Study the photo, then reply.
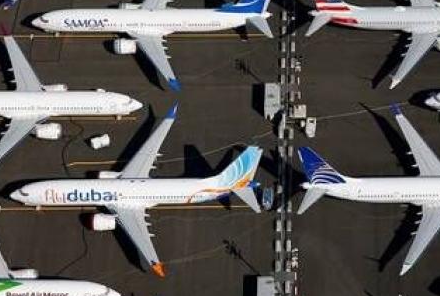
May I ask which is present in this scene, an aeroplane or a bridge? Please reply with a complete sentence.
The one in the frame is an aeroplane.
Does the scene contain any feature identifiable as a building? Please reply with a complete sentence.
No, the photo shows no building.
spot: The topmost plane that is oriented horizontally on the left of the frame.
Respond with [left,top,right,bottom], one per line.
[30,0,273,88]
